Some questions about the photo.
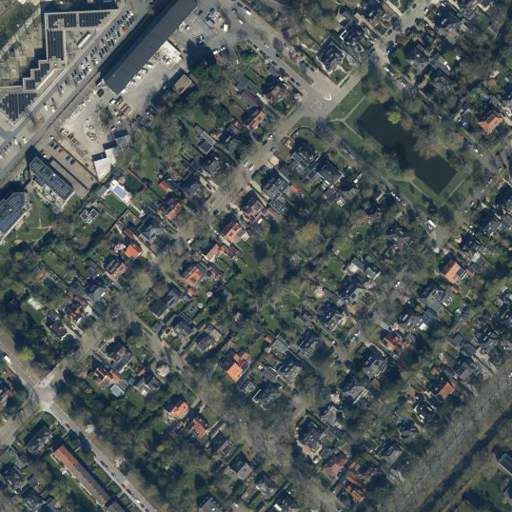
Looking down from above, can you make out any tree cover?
Yes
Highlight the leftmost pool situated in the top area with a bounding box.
[112,183,129,202]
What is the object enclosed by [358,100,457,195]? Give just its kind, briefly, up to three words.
pond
